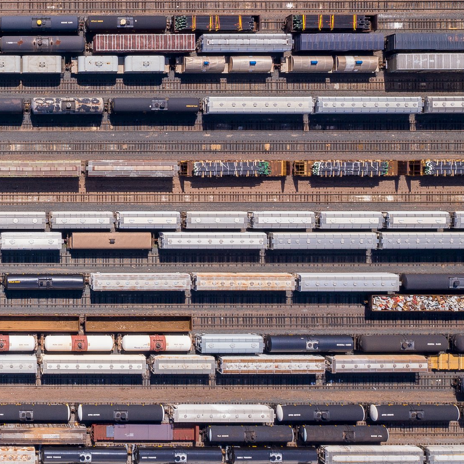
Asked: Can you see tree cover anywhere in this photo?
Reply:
No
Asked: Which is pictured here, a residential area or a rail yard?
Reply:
rail yard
